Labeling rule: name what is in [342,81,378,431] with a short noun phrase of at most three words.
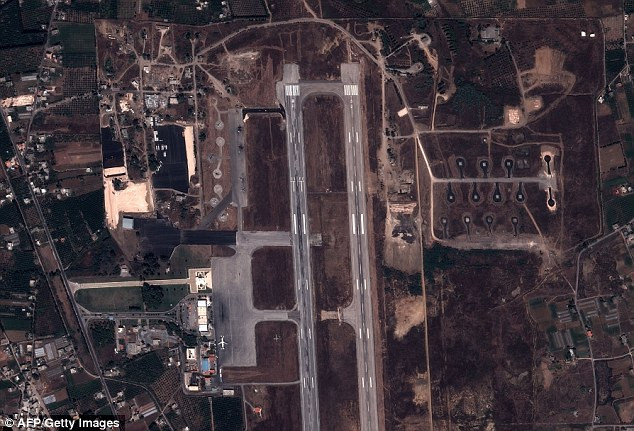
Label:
runway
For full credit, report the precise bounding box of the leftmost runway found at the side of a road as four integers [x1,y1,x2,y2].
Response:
[284,81,319,431]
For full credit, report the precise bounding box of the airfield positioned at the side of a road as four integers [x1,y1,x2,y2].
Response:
[102,63,378,431]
